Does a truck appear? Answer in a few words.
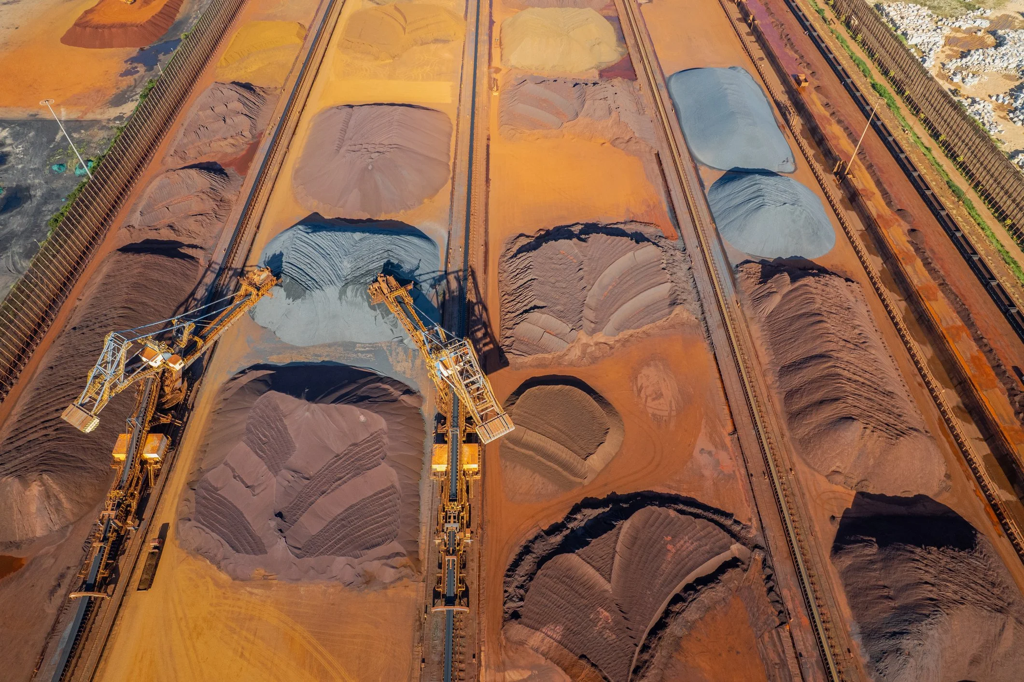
Yes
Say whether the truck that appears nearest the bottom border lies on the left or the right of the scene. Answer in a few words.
left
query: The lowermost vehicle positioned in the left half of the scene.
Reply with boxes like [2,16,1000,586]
[134,539,169,602]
